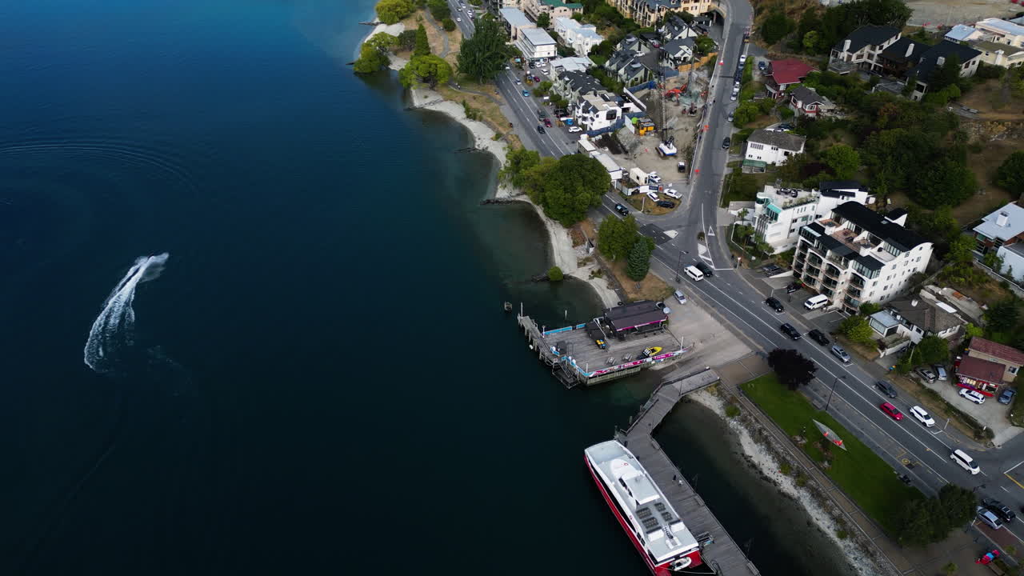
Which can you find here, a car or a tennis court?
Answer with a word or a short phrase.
car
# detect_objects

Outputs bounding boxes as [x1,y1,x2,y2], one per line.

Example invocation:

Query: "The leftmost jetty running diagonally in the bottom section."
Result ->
[517,303,583,391]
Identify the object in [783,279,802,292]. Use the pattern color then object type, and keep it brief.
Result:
black vehicle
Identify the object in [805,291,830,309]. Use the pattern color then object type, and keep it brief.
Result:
white vehicle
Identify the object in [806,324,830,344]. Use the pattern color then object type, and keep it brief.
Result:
black car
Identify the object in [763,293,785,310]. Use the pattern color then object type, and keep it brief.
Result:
black car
